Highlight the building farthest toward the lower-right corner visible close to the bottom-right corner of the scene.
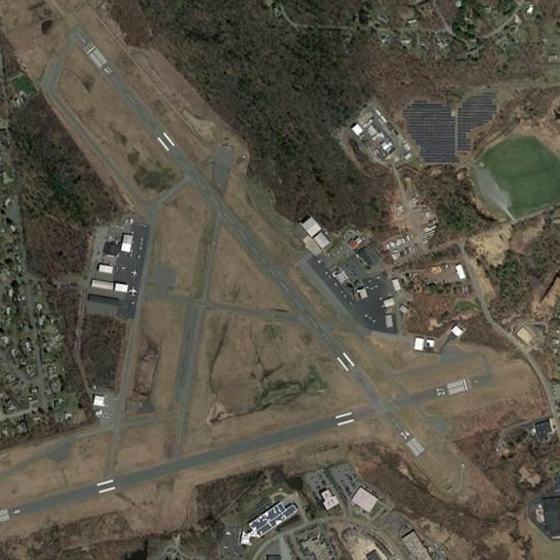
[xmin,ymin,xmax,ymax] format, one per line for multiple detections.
[542,497,560,538]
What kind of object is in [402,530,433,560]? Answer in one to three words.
building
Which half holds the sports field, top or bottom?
top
